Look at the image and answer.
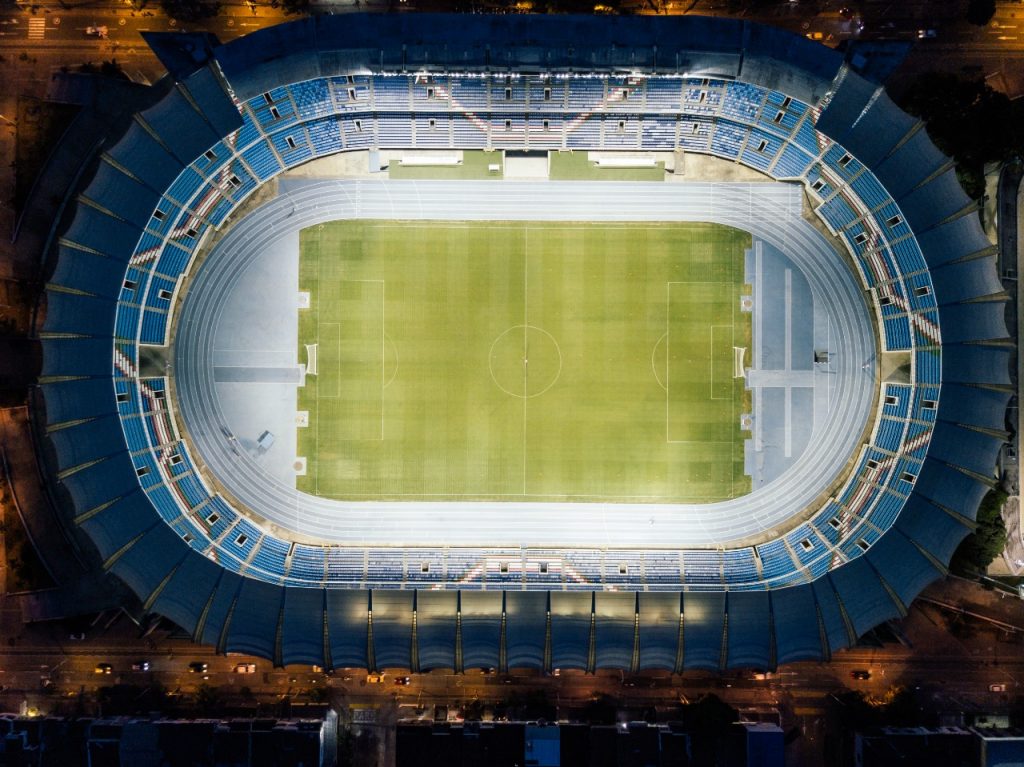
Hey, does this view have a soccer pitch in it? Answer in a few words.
Yes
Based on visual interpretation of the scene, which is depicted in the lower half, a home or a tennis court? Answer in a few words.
home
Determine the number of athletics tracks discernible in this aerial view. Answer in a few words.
1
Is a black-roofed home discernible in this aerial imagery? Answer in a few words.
Yes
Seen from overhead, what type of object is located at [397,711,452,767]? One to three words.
house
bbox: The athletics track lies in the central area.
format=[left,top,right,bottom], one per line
[174,180,875,543]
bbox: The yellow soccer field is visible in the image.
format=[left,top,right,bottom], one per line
[298,219,752,503]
